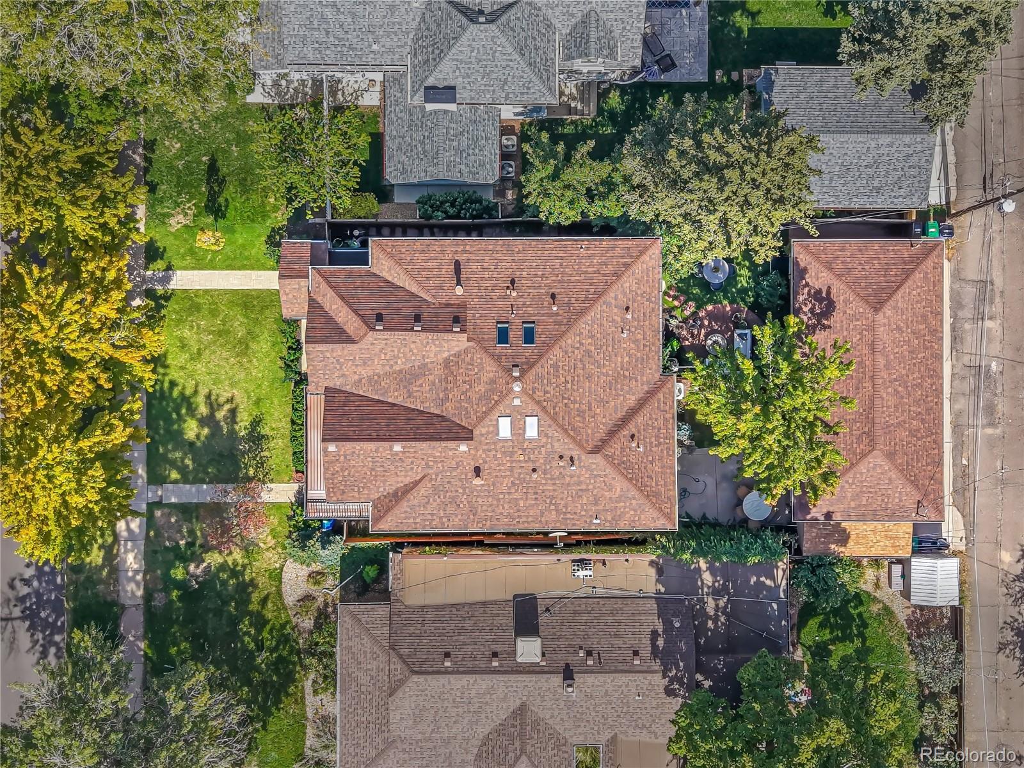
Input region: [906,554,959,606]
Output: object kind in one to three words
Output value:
shed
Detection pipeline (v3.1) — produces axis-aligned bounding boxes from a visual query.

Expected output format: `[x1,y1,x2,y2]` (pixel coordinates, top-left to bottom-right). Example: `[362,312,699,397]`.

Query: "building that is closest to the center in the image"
[279,236,679,533]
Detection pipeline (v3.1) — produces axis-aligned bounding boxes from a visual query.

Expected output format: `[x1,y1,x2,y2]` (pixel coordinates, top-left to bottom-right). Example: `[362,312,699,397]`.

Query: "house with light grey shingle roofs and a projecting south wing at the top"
[249,0,644,185]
